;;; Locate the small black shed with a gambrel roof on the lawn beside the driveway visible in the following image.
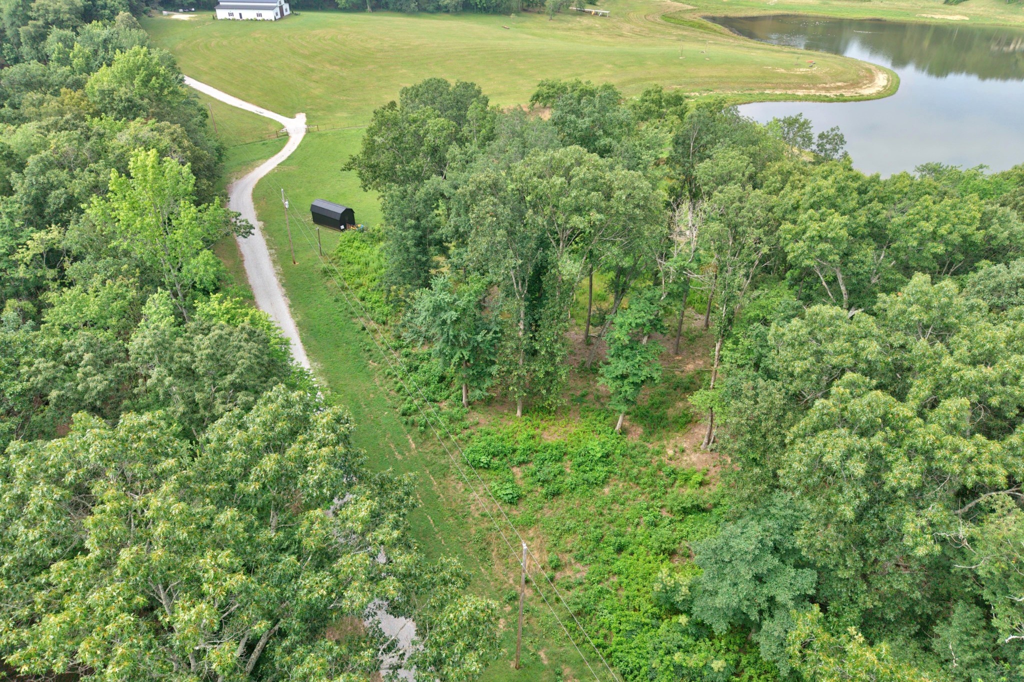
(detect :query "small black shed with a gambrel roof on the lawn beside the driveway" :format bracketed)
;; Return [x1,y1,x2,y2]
[310,199,358,231]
